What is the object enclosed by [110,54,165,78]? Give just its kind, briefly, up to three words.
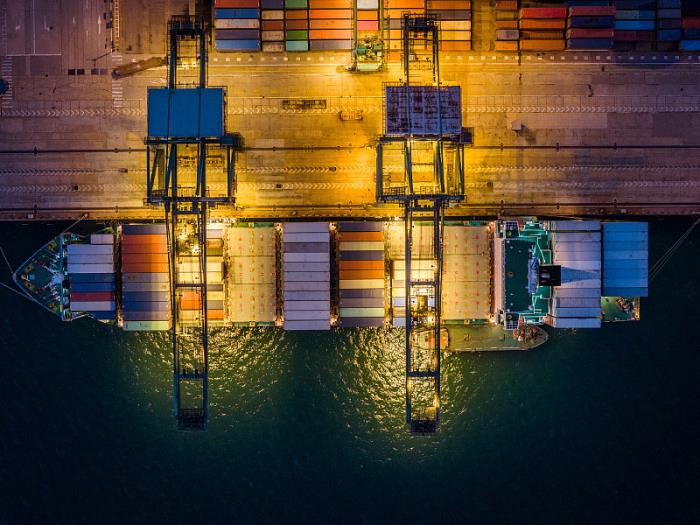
truck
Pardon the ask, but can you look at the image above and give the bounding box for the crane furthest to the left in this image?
[141,17,260,432]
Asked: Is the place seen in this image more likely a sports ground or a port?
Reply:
port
